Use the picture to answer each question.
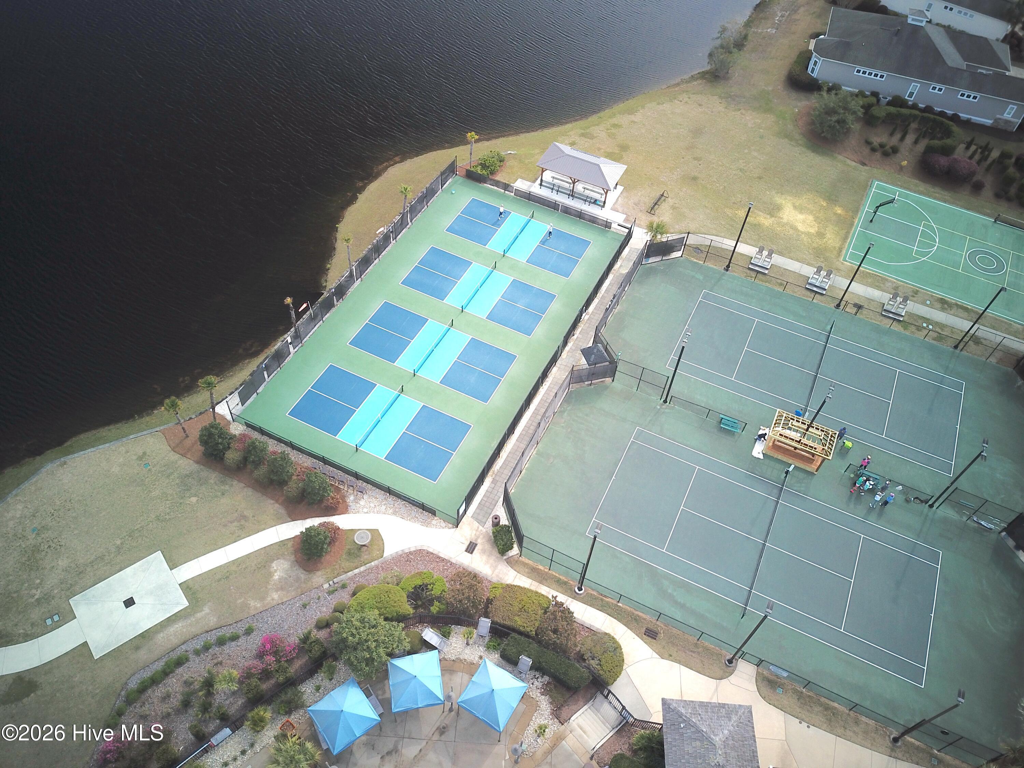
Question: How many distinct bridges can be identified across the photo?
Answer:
0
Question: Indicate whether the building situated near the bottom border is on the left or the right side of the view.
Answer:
right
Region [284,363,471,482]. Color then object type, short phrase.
blue sports court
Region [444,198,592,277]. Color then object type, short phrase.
blue sports court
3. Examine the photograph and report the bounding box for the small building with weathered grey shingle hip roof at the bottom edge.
[660,696,761,768]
